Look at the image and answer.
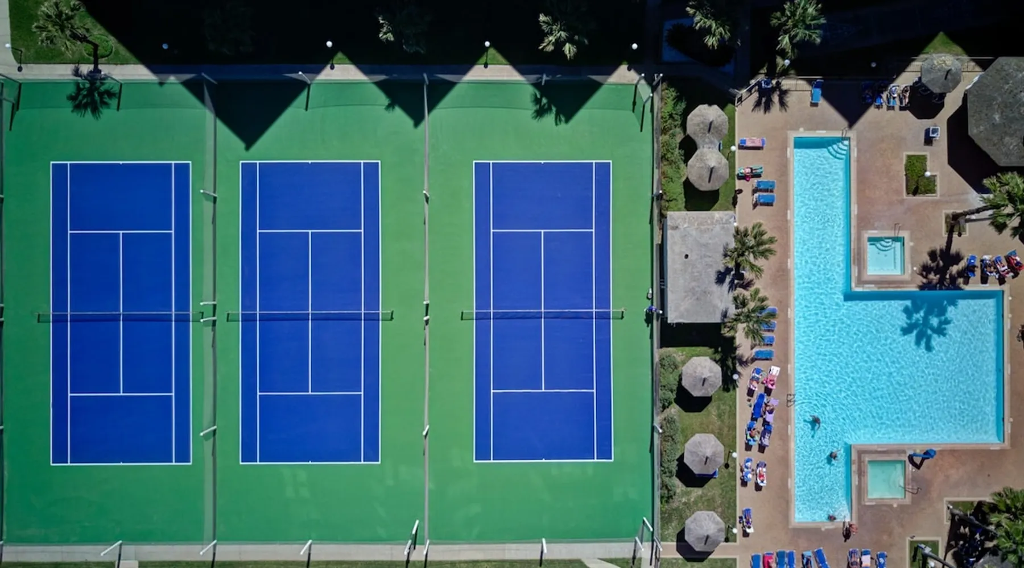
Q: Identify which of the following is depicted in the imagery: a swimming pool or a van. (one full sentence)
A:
I can see a swimming pool in this picture.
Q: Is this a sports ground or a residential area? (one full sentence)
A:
It's a sports ground.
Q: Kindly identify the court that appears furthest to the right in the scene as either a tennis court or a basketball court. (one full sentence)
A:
The court that appears furthest to the right appears to be a tennis court.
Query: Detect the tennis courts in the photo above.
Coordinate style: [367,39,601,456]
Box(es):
[428,78,654,543]
[3,78,216,543]
[216,78,428,544]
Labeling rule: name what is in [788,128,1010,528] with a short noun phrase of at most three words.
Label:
swimming pool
